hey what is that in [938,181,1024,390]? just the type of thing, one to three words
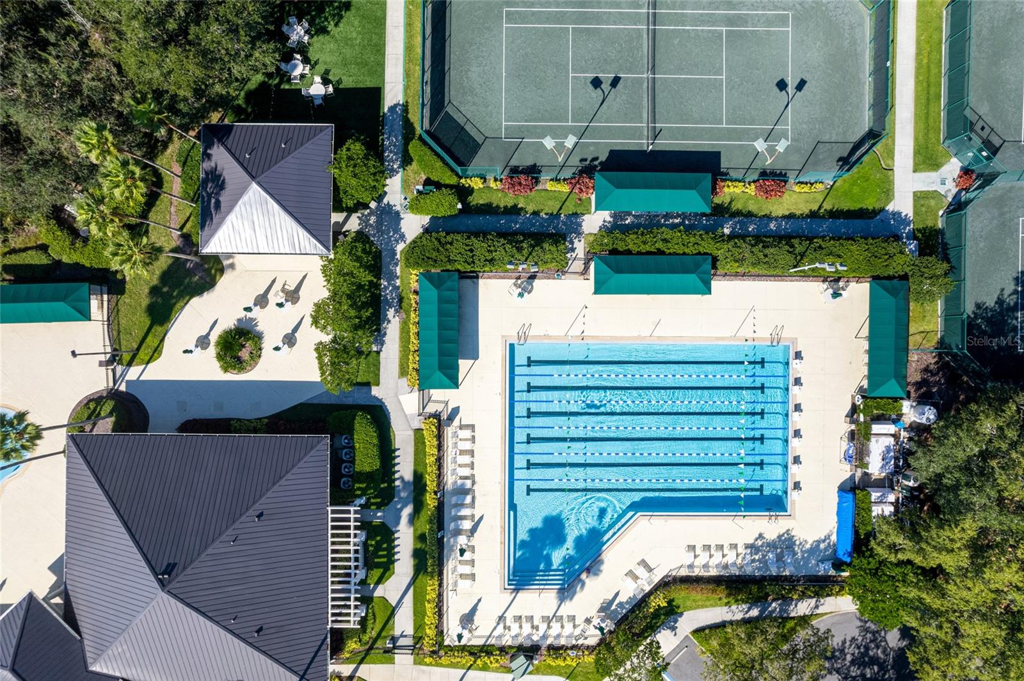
tennis court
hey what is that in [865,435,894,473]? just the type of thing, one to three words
shed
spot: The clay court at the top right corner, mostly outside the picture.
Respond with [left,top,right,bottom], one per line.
[942,0,1024,179]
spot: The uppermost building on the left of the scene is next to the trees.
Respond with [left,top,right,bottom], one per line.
[198,121,342,258]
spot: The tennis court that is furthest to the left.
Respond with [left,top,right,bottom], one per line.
[426,0,871,181]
